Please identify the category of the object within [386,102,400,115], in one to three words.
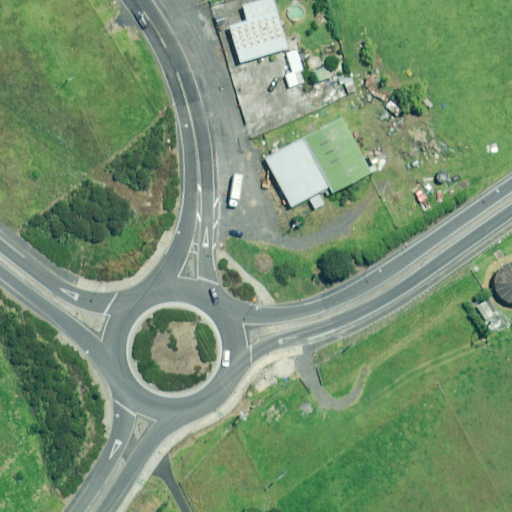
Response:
vehicle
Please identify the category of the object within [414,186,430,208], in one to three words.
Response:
vehicle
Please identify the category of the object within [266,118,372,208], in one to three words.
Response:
barn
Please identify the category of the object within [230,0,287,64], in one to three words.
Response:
house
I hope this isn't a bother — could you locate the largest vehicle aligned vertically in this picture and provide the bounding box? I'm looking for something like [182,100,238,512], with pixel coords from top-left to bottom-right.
[228,173,242,208]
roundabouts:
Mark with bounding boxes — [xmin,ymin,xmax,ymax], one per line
[87,254,276,429]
